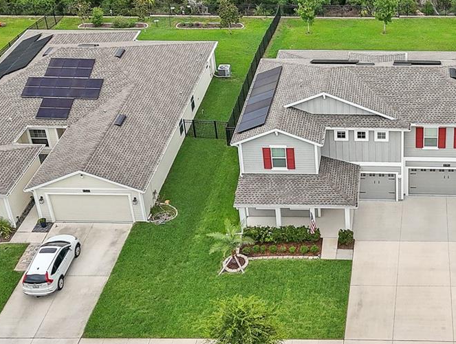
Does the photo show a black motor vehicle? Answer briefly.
No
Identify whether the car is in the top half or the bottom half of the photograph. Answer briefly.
bottom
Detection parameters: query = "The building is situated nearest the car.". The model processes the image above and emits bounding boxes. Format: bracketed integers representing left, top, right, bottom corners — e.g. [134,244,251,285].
[0,30,217,226]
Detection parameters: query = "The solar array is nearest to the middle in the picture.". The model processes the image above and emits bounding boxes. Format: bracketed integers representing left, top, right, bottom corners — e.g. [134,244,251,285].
[237,63,281,131]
